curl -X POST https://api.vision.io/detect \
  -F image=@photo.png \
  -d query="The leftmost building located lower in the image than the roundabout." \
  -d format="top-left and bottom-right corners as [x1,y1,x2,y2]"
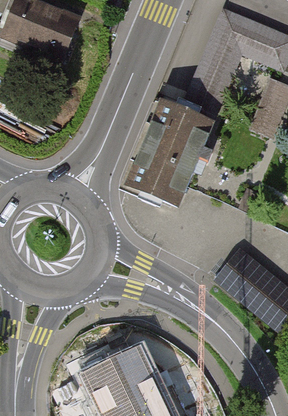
[82,340,181,416]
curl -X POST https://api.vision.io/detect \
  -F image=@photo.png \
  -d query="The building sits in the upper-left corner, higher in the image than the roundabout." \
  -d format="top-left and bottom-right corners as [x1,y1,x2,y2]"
[0,0,82,65]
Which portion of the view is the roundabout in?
left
